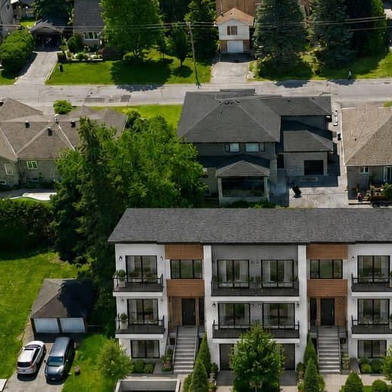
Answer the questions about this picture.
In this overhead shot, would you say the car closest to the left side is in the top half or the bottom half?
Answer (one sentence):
It is in the bottom half that the car closest to the left side appears.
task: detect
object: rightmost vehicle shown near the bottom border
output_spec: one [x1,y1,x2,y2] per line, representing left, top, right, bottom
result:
[41,332,76,380]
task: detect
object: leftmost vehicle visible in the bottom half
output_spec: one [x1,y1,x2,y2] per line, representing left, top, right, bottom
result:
[14,338,49,376]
